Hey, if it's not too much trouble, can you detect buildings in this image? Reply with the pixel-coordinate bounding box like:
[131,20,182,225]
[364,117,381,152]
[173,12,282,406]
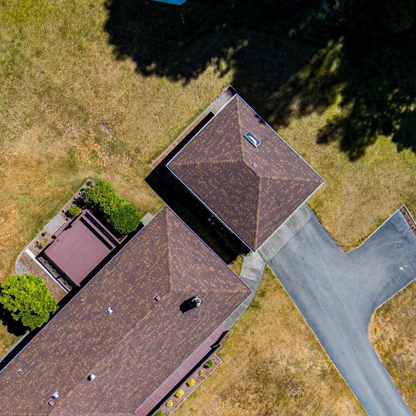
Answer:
[0,205,254,416]
[165,94,324,253]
